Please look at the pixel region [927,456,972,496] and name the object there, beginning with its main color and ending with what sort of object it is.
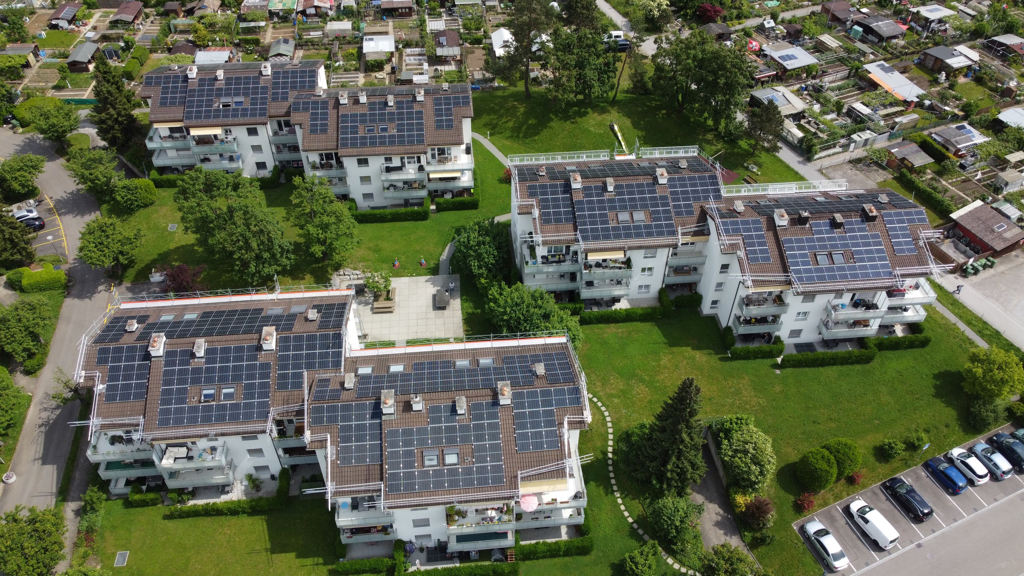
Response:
blue car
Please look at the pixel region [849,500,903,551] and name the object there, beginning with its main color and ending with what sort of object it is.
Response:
white van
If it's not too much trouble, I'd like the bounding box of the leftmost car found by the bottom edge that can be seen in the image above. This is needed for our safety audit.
[804,521,851,573]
